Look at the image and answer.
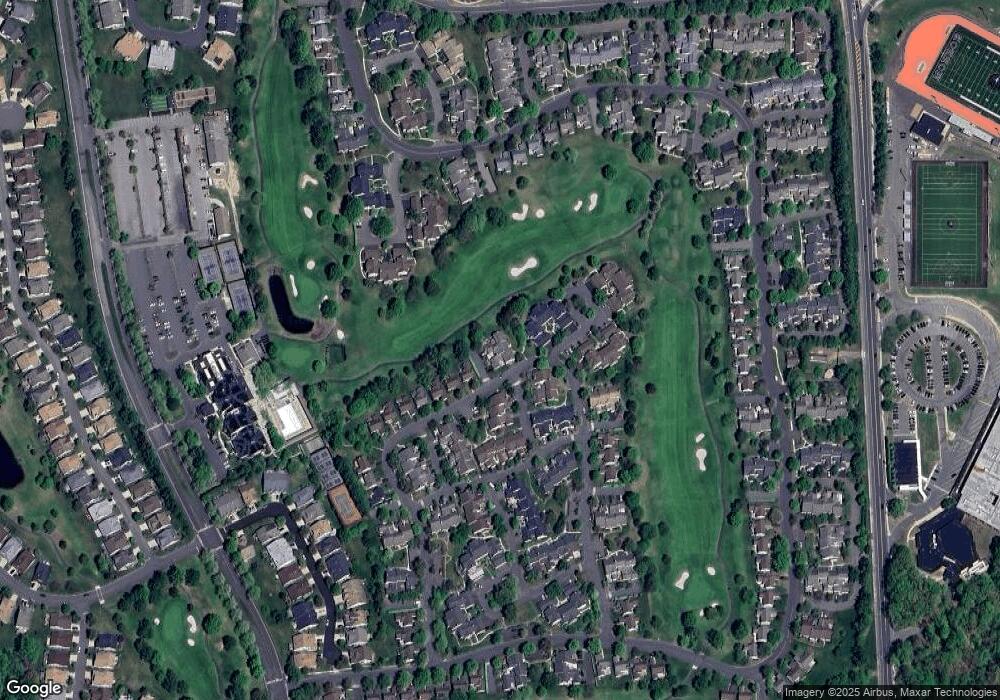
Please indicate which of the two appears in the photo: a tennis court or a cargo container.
tennis court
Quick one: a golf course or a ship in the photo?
golf course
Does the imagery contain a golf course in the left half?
Yes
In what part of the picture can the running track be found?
top right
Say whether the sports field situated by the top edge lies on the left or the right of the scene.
right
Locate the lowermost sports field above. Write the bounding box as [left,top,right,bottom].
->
[912,160,988,287]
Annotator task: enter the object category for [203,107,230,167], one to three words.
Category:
building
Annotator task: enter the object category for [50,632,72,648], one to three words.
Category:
house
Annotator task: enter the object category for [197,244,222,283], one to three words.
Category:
tennis court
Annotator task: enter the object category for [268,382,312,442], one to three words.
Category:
swimming pool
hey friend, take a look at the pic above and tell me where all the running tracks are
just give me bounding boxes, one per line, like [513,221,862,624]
[896,15,1000,137]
